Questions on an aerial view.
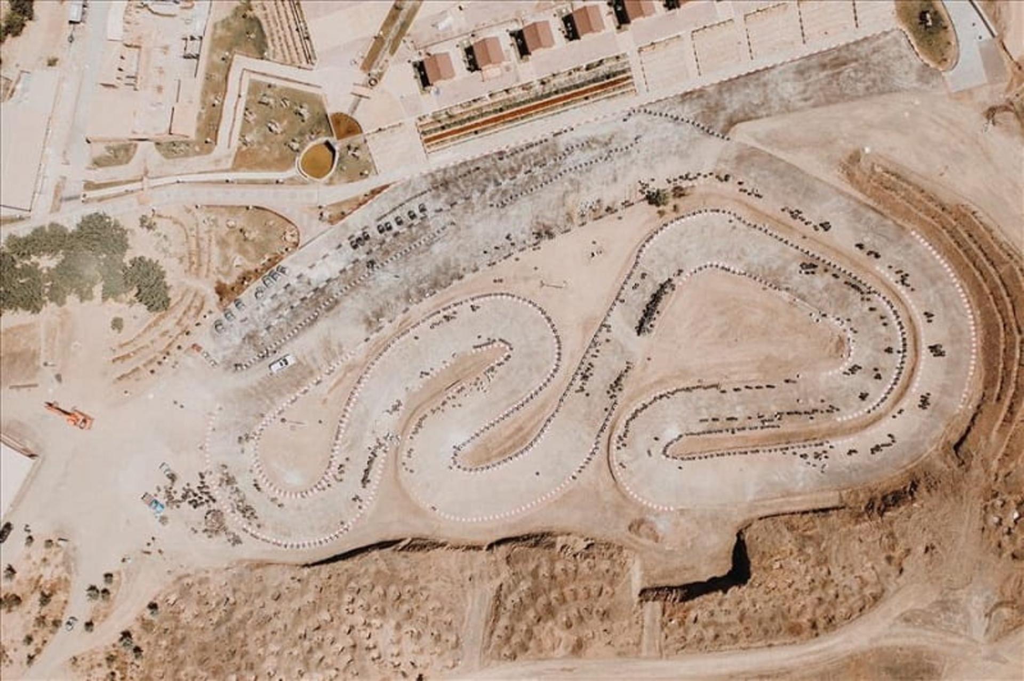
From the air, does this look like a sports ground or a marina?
sports ground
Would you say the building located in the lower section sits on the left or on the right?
left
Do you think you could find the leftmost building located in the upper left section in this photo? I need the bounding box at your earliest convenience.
[0,69,59,211]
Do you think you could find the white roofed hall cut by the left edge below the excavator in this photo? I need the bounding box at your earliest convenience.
[0,436,43,528]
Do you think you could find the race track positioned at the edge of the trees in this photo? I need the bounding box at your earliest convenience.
[205,29,976,549]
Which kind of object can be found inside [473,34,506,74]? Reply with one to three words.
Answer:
house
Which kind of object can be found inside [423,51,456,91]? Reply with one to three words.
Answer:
house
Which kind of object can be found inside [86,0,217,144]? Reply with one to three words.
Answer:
building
